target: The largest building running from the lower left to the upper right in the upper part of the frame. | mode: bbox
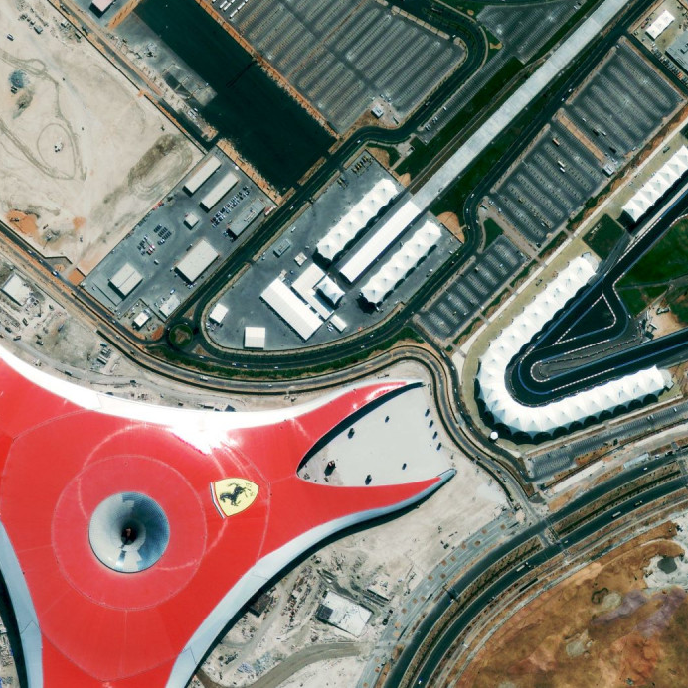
[338,199,421,283]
